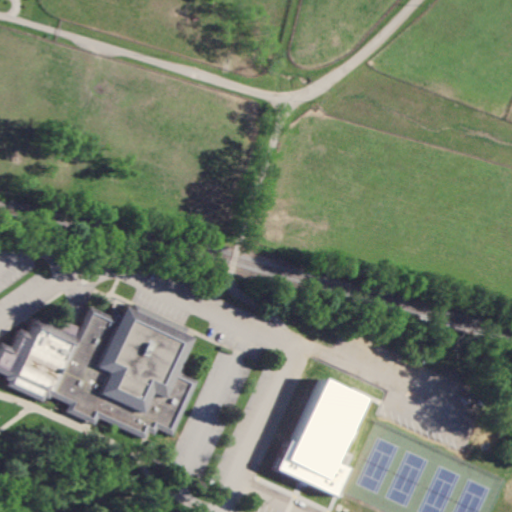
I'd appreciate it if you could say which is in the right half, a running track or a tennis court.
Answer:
tennis court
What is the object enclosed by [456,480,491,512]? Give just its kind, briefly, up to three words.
tennis court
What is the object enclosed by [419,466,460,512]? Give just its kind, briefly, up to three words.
tennis court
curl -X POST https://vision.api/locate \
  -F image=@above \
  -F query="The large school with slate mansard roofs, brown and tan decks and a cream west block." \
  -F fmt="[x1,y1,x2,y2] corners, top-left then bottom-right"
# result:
[0,306,194,437]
